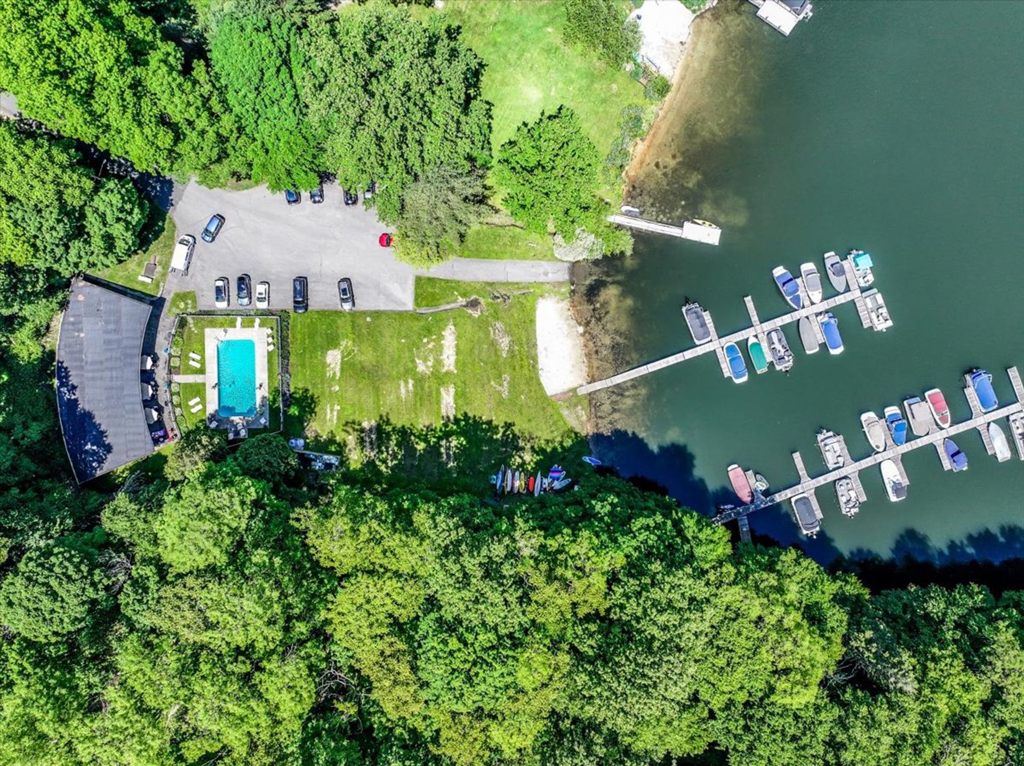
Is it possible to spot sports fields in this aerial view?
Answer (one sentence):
No, the scene contains no sports field.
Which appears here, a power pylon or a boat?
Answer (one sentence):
Looking from above, you can make out a boat.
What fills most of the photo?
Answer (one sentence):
What you mostly see from above here is trees.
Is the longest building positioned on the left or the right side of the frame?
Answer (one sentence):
The longest building sits on the left side.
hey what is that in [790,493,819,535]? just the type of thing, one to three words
boat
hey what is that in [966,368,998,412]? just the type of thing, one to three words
boat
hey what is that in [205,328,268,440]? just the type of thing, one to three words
swimming pool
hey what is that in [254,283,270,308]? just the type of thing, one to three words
car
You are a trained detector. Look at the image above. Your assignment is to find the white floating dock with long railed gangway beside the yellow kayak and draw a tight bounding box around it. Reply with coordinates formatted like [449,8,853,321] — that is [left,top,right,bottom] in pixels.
[607,211,722,245]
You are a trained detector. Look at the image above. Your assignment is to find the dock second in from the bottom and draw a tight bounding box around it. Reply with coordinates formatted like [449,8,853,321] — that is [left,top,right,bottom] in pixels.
[577,258,872,395]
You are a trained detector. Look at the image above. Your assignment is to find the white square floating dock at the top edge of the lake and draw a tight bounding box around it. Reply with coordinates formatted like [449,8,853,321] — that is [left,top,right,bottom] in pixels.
[739,0,800,36]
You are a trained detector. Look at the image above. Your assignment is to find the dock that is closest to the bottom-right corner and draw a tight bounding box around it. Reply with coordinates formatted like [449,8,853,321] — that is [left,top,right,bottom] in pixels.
[721,366,1024,549]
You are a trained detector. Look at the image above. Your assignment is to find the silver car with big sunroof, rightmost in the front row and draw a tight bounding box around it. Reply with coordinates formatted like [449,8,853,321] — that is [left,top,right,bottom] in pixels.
[337,280,354,310]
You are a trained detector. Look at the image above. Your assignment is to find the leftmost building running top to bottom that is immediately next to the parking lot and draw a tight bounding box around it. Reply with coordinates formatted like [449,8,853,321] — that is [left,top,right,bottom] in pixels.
[55,278,156,485]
